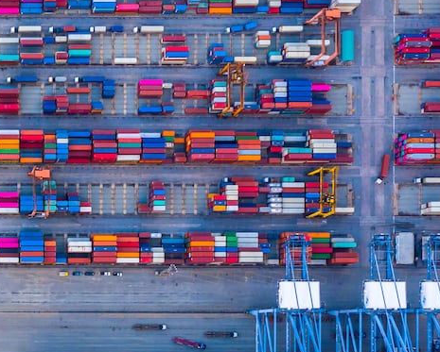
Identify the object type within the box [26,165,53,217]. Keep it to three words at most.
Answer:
container crane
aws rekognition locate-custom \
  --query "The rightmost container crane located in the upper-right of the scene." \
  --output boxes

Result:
[303,9,338,69]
